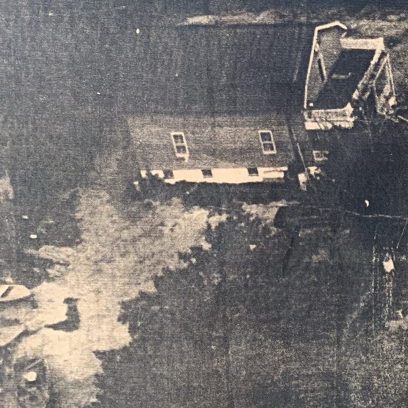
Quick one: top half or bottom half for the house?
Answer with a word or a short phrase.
top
